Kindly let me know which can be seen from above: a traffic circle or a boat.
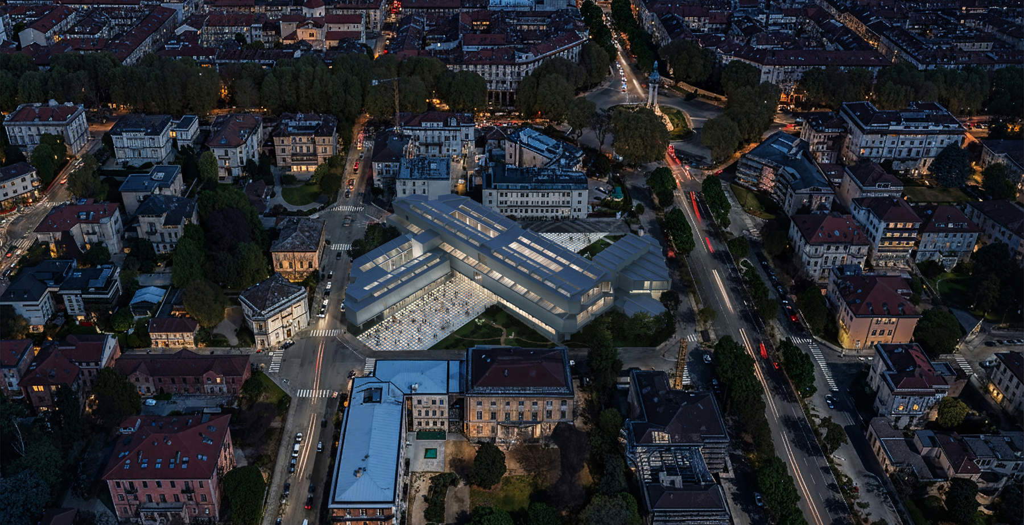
traffic circle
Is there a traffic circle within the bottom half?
No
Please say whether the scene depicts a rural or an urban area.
urban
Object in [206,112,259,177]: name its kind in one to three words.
house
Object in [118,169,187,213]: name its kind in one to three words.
building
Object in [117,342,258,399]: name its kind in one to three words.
house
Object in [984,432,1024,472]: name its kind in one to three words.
building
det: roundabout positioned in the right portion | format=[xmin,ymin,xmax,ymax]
[563,88,729,160]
